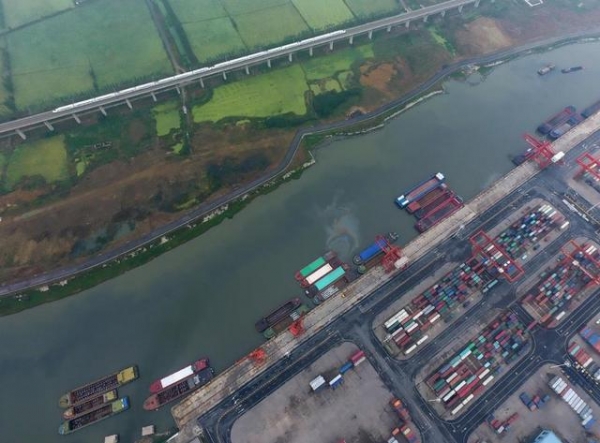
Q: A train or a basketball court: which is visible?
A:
train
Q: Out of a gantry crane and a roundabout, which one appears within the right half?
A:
gantry crane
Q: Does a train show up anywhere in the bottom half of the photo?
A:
No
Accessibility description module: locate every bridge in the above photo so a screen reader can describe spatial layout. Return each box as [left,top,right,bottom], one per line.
[0,0,496,139]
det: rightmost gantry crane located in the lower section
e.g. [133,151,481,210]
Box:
[554,239,600,296]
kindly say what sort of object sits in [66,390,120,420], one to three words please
ship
